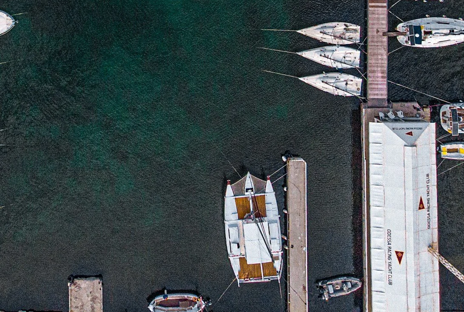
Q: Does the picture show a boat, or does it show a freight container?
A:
boat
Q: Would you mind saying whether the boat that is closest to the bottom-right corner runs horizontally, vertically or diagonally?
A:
horizontally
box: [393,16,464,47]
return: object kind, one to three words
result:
boat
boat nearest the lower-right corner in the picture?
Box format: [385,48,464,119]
[315,278,362,302]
